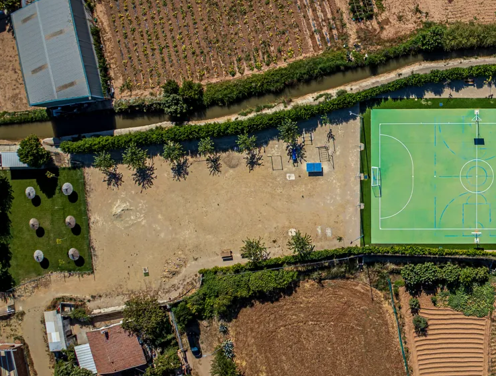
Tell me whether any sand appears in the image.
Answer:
Yes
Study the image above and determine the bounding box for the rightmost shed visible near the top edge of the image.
[10,0,104,107]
